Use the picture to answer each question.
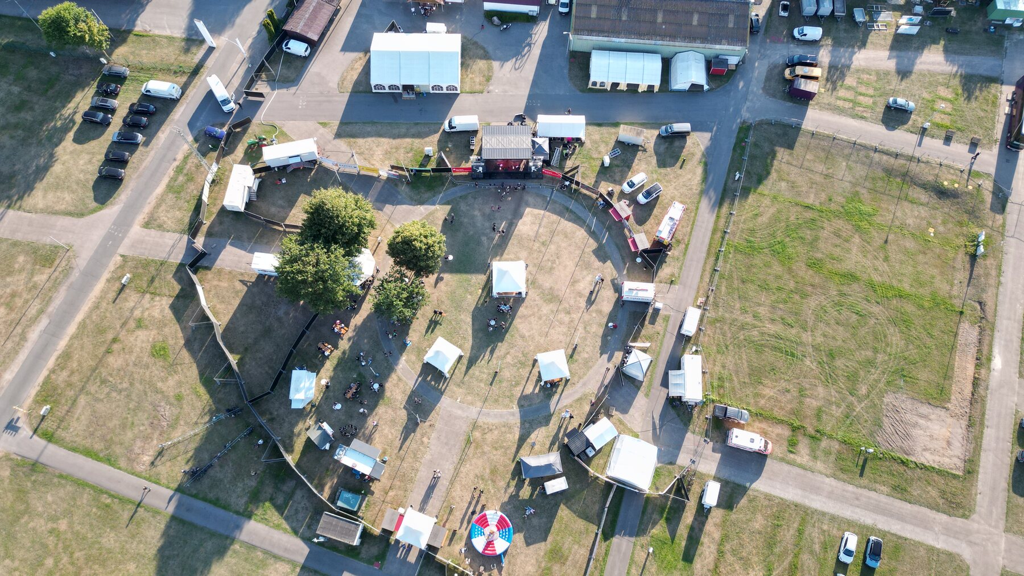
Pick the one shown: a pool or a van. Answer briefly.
van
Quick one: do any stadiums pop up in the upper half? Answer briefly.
No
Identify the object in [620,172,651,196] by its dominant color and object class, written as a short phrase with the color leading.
white car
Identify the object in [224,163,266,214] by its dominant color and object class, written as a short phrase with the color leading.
white trailer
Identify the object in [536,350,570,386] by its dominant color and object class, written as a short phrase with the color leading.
white tent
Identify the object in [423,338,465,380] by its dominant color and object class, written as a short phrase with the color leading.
white tent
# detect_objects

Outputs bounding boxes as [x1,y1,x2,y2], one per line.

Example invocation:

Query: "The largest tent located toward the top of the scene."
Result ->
[369,32,462,101]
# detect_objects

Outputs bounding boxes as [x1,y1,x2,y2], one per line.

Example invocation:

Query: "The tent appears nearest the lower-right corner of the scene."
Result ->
[599,434,658,492]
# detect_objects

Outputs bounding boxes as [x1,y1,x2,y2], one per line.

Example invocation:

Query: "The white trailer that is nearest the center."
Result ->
[620,280,659,302]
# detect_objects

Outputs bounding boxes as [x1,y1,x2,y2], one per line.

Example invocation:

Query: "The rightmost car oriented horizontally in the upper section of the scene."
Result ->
[885,98,915,114]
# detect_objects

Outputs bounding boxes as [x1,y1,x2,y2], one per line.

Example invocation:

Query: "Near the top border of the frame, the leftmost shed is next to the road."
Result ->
[283,0,348,46]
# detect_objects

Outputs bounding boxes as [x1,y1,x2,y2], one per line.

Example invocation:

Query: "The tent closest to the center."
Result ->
[489,261,530,302]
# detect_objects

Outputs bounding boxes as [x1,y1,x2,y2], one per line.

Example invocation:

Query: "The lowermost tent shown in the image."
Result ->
[396,507,439,551]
